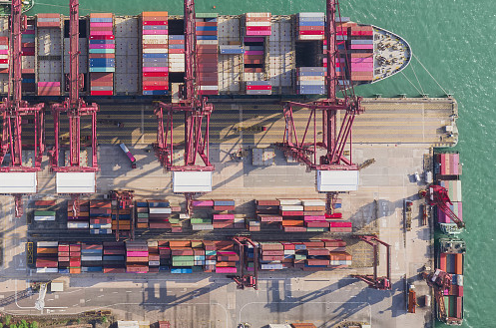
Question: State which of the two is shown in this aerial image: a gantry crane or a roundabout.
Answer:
gantry crane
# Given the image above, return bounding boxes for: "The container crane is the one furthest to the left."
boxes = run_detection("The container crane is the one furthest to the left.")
[0,0,52,211]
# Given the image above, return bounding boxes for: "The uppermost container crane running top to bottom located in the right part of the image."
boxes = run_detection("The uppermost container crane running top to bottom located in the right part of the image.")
[278,0,367,210]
